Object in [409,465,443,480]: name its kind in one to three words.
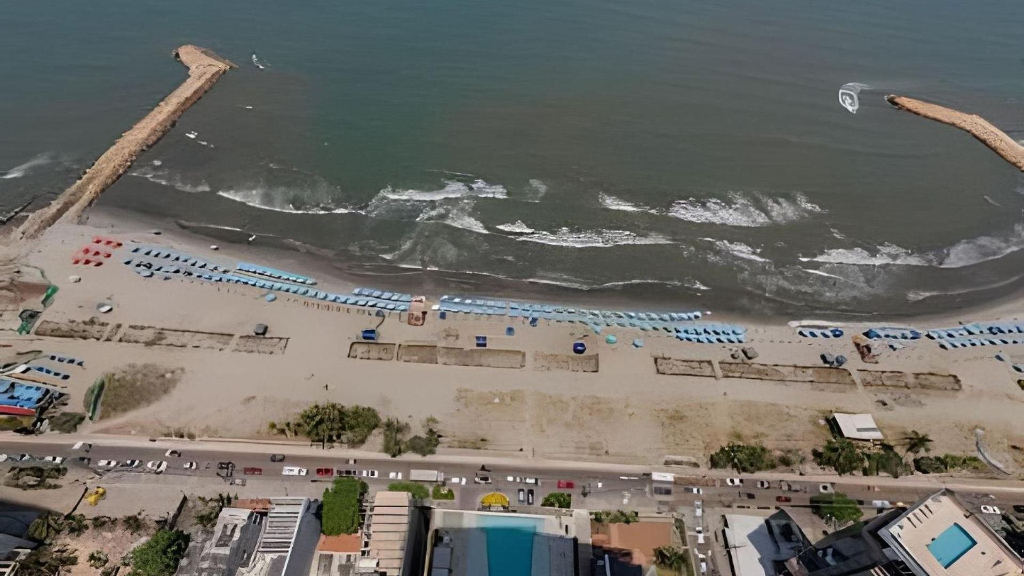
vehicle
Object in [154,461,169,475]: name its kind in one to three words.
car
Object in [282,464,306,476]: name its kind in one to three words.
vehicle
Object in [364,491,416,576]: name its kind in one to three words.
building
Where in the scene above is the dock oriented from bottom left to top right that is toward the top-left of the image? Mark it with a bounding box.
[21,48,231,240]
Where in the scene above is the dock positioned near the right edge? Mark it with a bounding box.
[892,98,1024,172]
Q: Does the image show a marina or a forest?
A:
marina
